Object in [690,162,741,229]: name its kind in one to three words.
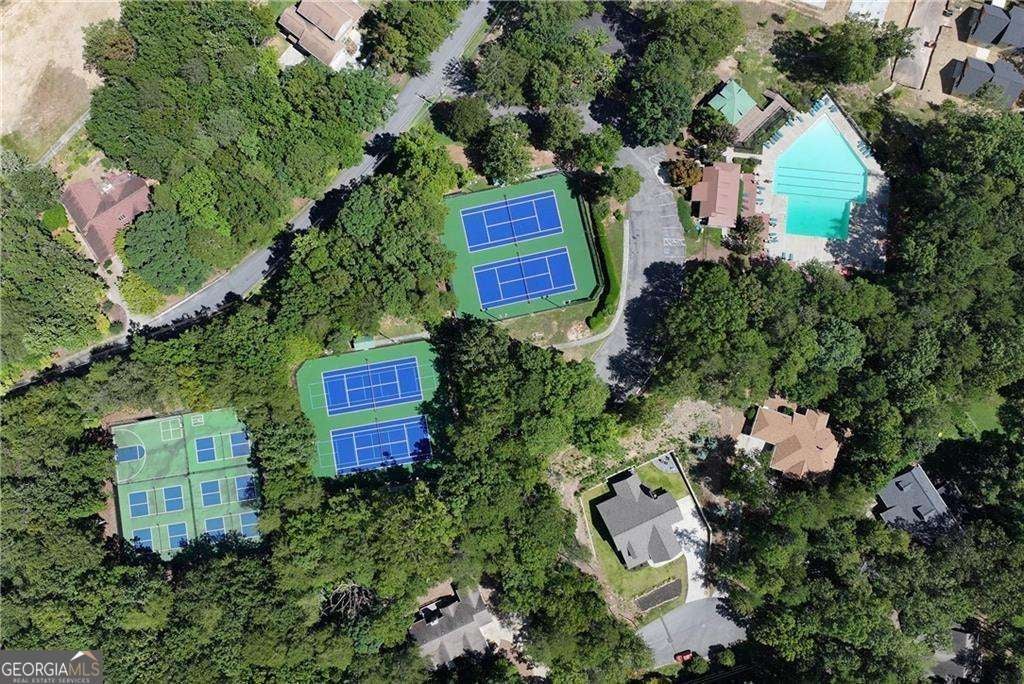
building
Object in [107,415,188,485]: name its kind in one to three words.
basketball court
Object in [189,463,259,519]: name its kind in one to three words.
sports court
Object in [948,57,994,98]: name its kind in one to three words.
house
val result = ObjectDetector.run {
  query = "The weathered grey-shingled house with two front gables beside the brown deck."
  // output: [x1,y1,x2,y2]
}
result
[411,580,493,669]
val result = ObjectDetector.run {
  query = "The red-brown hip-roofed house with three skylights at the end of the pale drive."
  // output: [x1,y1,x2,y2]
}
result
[61,173,153,263]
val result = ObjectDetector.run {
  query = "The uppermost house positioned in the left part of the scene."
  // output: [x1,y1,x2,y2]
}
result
[278,0,365,66]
